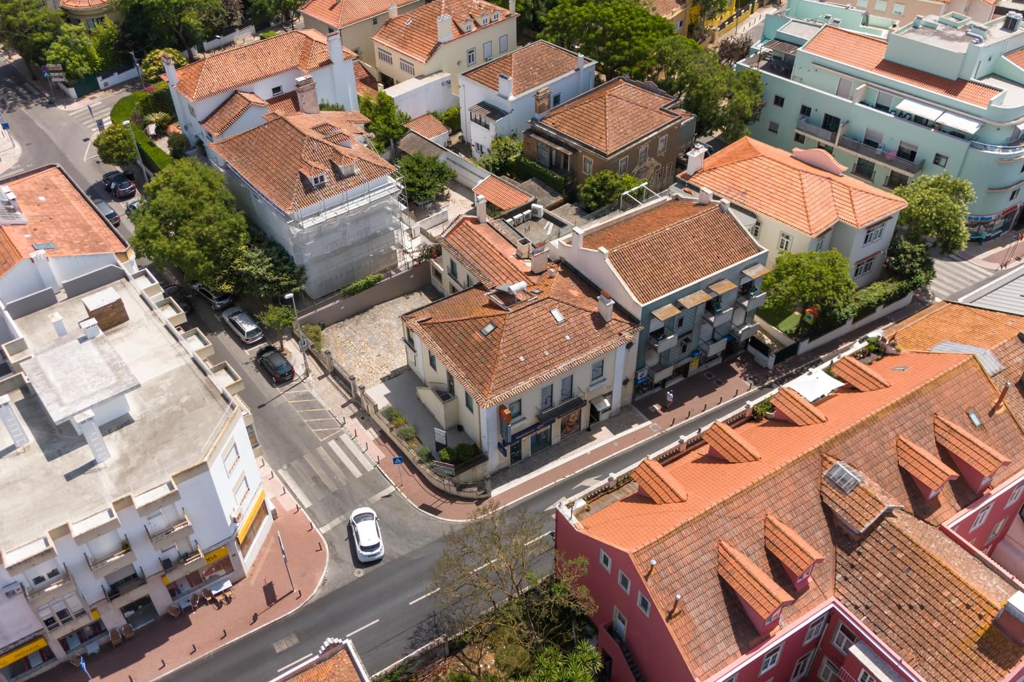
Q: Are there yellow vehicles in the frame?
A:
No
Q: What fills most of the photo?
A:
buildings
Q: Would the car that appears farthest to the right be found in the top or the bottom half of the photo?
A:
bottom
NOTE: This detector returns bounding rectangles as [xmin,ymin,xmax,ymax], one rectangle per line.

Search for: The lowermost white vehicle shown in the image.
[348,507,382,563]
